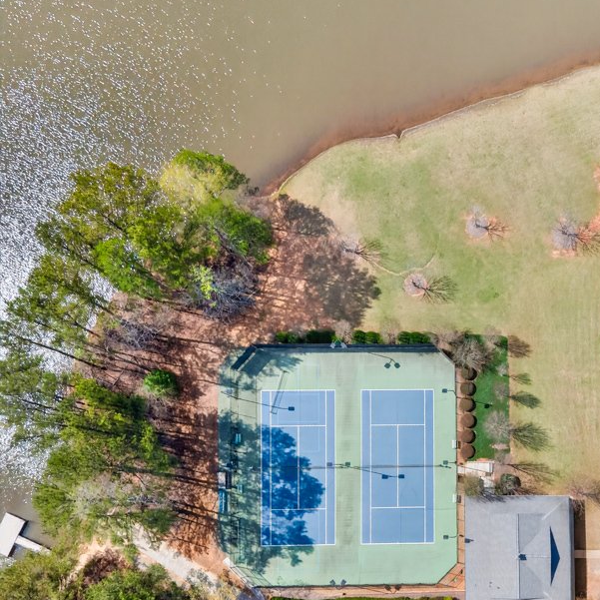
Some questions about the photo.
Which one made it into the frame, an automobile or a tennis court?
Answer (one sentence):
Of the two, only a tennis court appears.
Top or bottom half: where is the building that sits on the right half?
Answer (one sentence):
The building that sits on the right half sits in the bottom half of the picture.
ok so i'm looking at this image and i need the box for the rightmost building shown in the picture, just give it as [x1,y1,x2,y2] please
[465,496,574,600]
